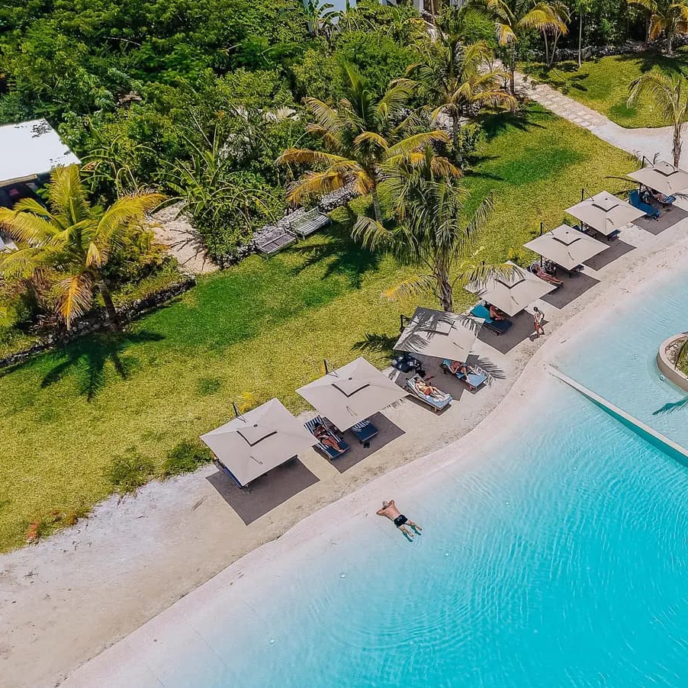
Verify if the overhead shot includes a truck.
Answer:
No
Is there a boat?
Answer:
No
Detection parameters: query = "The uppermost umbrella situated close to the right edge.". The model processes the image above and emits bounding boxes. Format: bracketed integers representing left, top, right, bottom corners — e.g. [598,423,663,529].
[631,153,688,197]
